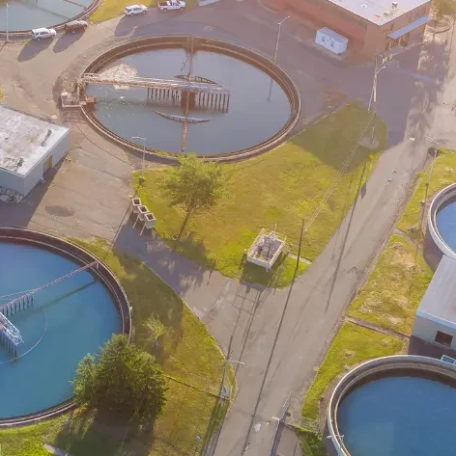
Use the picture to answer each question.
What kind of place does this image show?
industrial area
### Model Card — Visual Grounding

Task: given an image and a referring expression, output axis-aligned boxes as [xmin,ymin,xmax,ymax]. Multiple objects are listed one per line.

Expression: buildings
[0,104,71,194]
[284,0,436,60]
[411,255,456,349]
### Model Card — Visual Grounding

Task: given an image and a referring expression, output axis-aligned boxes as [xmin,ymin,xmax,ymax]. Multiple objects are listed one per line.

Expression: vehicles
[31,26,57,41]
[157,0,186,10]
[64,17,91,32]
[123,2,150,16]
